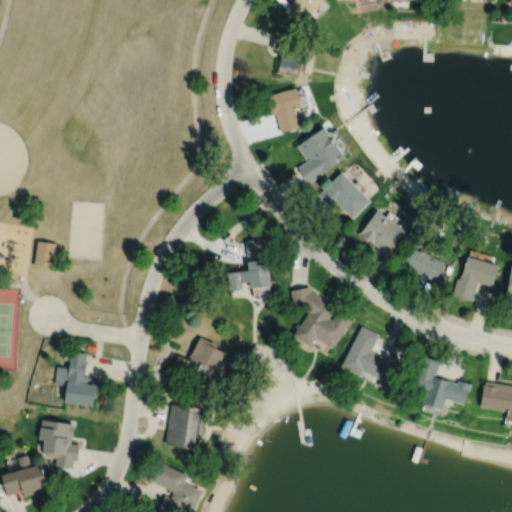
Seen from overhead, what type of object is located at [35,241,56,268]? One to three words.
building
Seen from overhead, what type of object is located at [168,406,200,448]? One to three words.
house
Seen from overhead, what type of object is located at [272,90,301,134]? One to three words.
house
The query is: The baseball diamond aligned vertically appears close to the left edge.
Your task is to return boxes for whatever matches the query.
[0,124,28,195]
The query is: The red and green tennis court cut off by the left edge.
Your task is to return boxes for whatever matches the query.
[0,290,20,371]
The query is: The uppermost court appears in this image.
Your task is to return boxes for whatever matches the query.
[70,202,105,259]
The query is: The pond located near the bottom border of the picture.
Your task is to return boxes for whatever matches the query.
[228,408,512,512]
